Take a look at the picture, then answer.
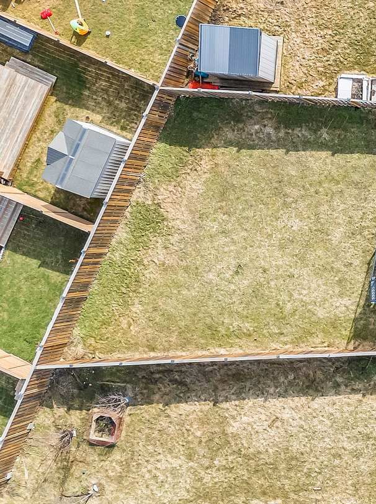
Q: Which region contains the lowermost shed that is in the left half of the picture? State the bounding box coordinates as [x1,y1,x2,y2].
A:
[38,121,135,197]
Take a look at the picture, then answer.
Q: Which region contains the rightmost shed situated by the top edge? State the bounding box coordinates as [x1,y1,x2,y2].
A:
[198,23,284,90]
